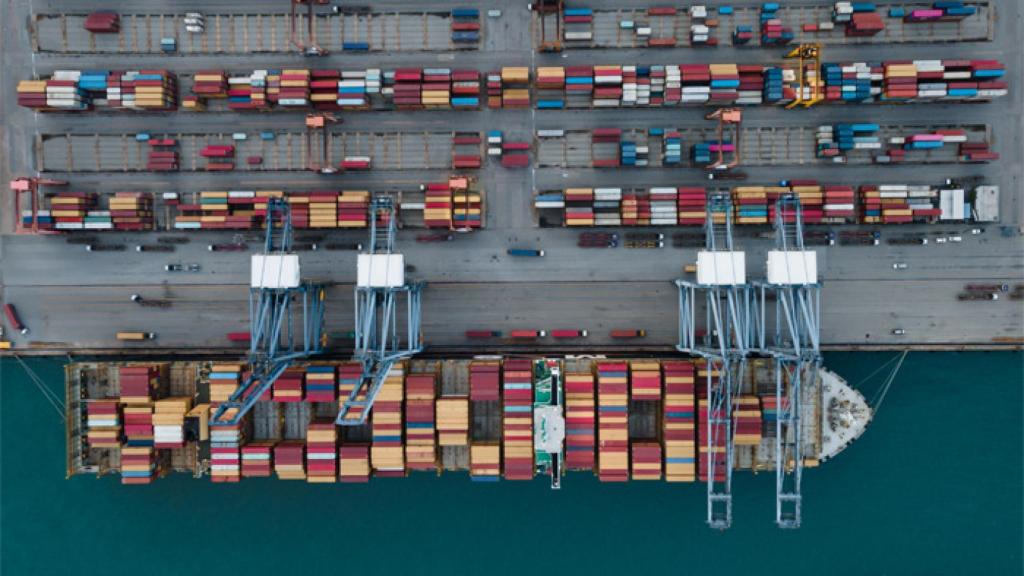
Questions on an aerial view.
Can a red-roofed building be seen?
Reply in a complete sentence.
No, there appears to be no red-roofed building in this shot.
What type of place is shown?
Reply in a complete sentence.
What you see here is a port.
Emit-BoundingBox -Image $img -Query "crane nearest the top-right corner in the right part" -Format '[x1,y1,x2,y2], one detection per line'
[777,44,822,109]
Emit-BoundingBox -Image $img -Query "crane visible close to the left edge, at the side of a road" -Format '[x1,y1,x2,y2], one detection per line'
[11,182,71,233]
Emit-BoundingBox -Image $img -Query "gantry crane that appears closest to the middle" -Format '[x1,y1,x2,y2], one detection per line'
[448,180,478,233]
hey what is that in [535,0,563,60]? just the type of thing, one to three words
container crane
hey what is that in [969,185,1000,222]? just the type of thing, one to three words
building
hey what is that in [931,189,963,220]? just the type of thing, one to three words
shed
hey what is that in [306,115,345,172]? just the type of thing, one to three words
container crane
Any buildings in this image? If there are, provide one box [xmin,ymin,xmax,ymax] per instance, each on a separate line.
[969,185,1000,222]
[931,189,963,220]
